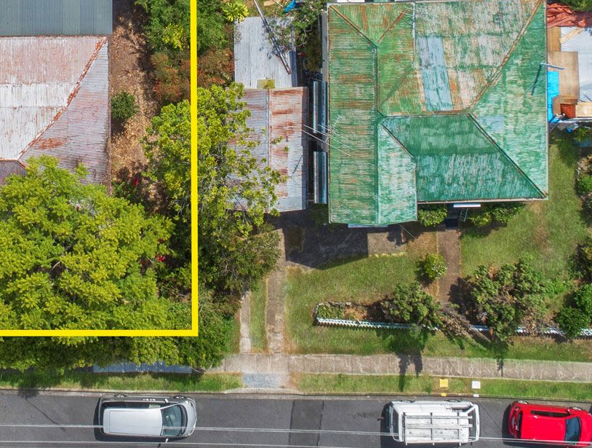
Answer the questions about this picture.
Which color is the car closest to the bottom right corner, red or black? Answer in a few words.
red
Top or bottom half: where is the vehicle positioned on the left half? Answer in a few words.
bottom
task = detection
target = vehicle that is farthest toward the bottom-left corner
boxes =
[97,389,195,439]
